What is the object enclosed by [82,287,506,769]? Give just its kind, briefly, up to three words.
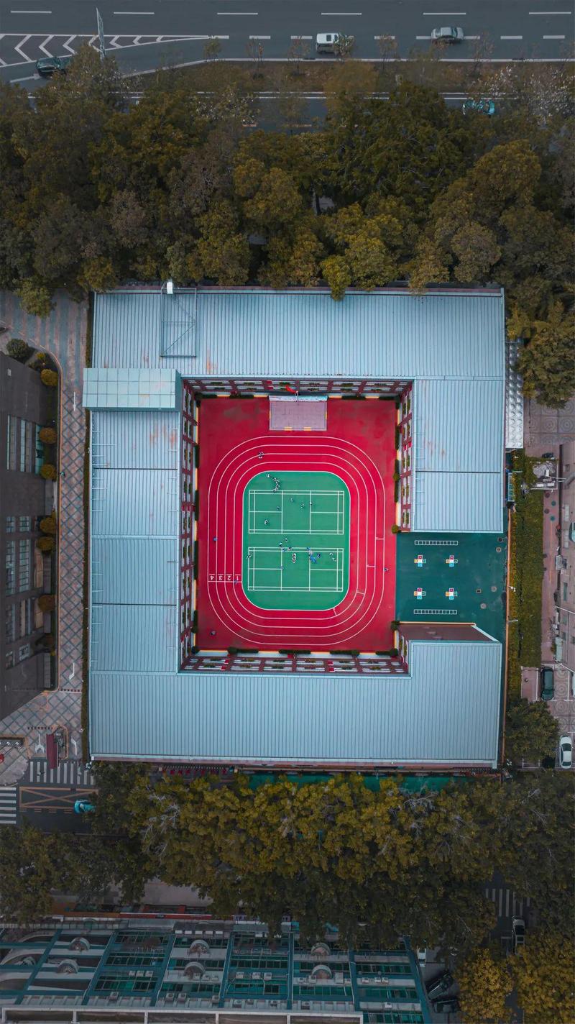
building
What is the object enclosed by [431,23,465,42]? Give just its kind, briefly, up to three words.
car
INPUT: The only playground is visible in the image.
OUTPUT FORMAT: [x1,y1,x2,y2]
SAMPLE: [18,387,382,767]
[397,439,512,640]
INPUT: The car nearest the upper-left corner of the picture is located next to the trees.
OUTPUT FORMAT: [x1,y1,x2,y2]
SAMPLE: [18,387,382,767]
[33,55,69,76]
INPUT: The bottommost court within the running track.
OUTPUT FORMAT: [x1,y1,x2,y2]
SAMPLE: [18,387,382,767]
[247,547,344,592]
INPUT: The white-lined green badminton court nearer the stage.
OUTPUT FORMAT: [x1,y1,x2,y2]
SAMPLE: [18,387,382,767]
[248,490,345,535]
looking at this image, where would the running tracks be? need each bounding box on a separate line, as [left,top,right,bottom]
[196,394,397,649]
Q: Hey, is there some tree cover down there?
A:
Yes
